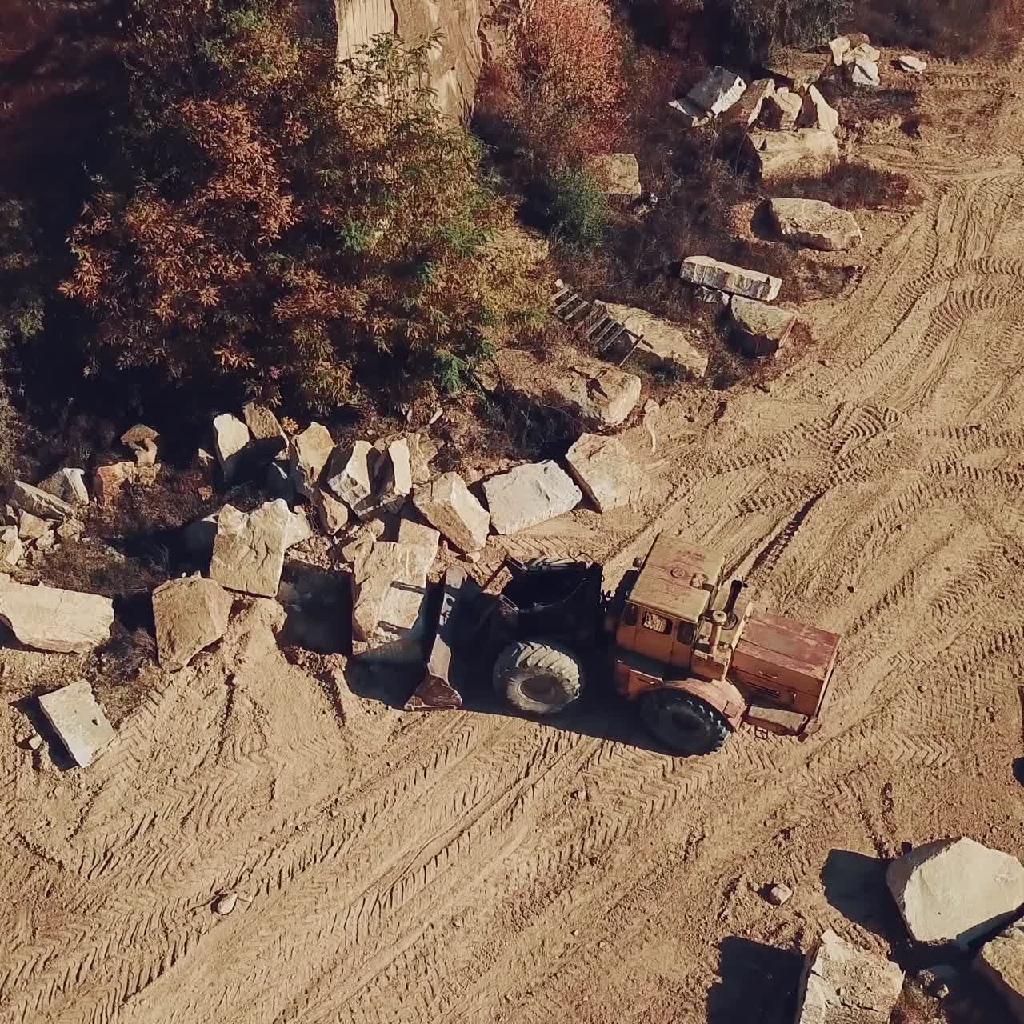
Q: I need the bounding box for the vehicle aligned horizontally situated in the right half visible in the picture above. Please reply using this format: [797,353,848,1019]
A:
[399,535,841,759]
